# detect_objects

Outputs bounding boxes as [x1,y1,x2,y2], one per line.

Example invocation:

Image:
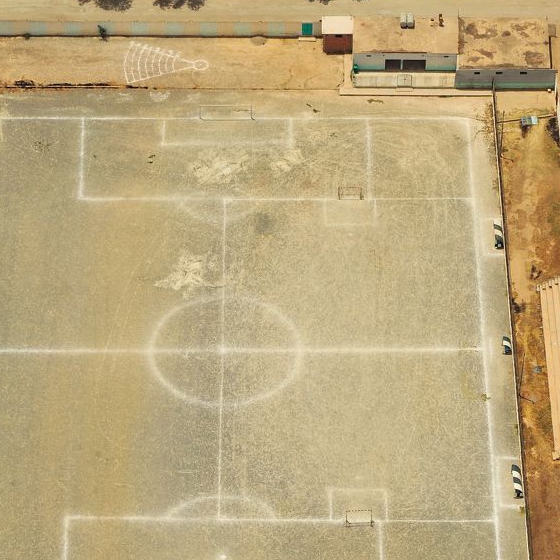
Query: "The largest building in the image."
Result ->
[456,18,559,90]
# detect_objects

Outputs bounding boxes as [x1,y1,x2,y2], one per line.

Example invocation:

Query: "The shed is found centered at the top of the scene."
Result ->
[321,15,354,54]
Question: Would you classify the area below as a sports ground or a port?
sports ground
